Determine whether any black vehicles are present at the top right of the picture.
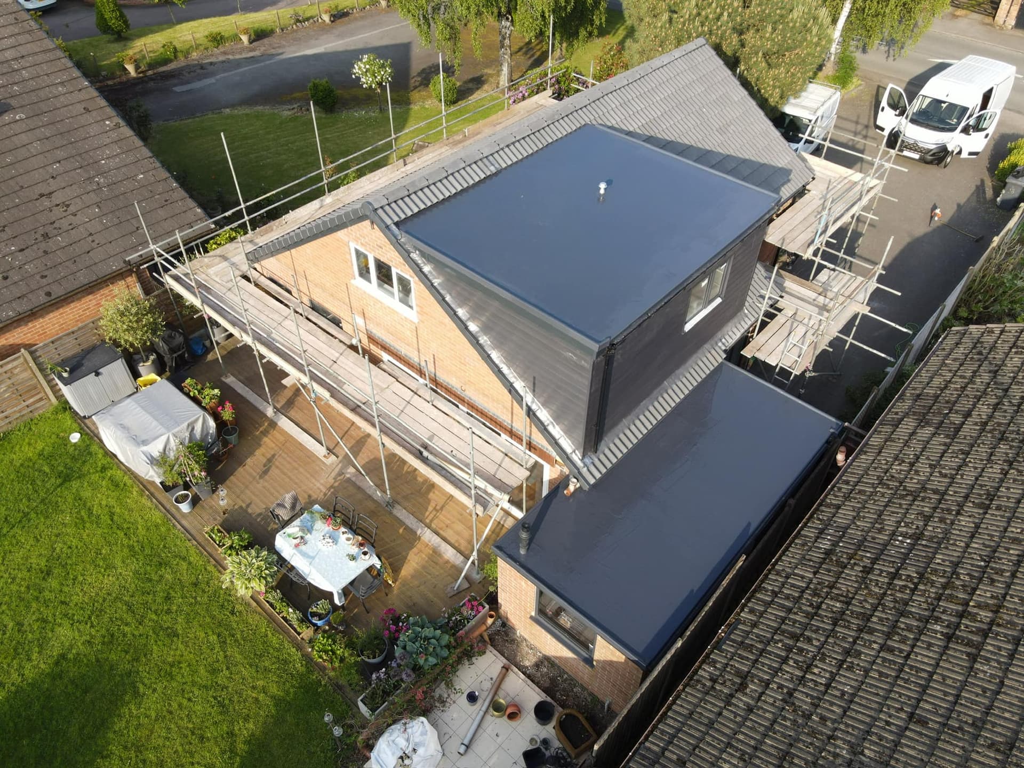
No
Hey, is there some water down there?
No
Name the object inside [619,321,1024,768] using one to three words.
house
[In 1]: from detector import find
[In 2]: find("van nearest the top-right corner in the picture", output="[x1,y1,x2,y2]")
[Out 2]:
[869,52,1016,172]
